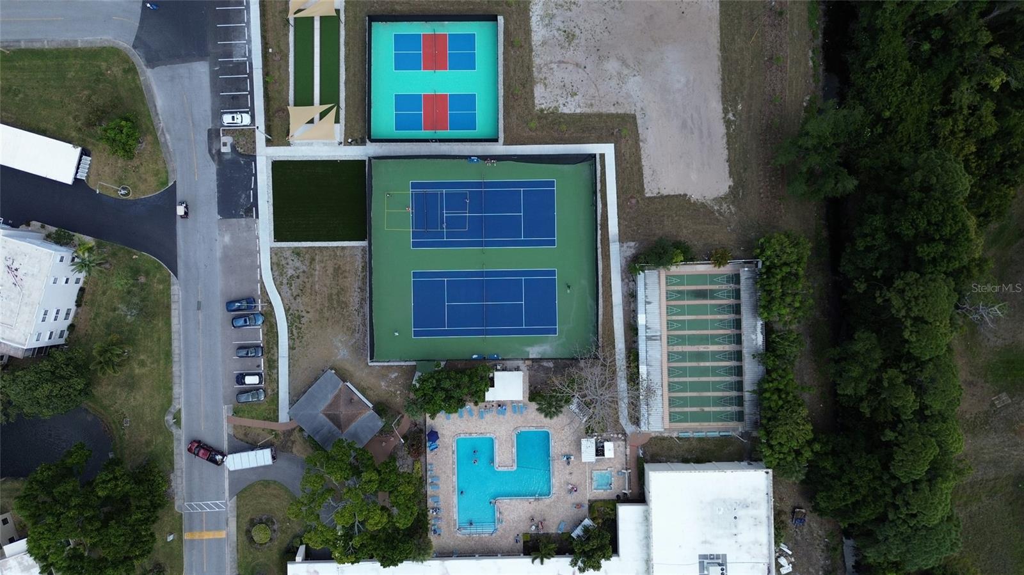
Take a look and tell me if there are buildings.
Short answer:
Yes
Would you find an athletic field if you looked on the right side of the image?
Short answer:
No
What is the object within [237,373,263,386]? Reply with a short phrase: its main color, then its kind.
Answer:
white vehicle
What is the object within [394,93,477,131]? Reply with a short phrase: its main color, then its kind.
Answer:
blue sports court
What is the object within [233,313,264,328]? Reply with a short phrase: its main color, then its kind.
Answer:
blue car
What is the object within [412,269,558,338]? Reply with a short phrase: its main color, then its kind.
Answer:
blue tennis court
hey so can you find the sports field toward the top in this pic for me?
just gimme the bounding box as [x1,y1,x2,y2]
[273,159,366,242]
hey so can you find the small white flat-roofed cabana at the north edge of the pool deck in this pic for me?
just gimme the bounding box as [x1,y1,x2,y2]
[485,370,523,405]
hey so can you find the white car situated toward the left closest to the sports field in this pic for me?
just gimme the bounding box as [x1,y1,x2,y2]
[222,112,252,127]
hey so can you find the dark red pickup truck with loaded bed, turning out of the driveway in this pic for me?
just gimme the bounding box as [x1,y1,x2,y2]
[187,440,227,465]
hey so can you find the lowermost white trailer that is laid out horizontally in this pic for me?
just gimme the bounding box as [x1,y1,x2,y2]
[225,445,283,469]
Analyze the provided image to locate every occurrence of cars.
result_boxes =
[233,313,264,328]
[222,112,252,127]
[236,389,266,404]
[237,373,263,386]
[227,298,257,312]
[236,345,264,358]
